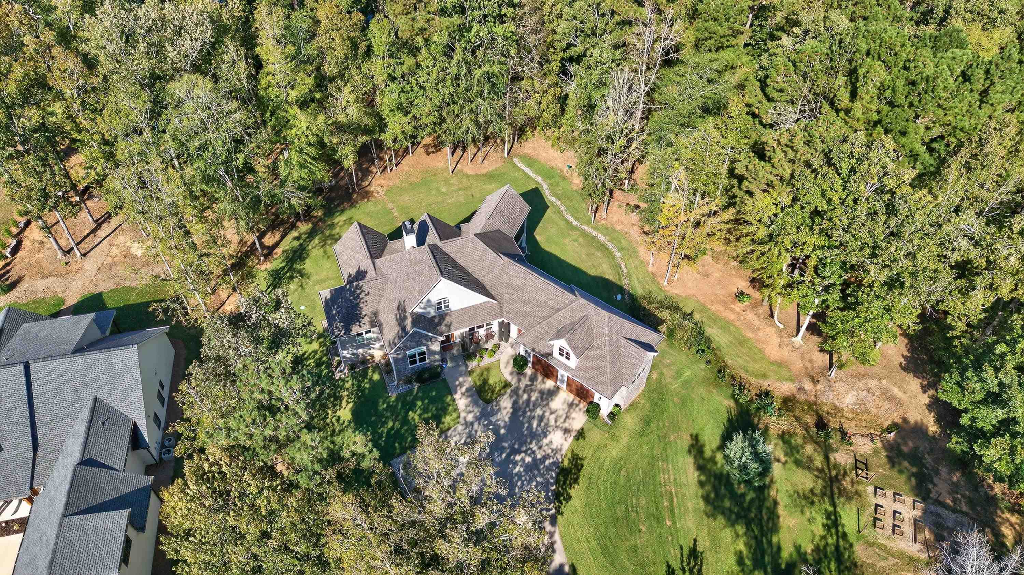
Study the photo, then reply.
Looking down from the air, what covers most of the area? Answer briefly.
trees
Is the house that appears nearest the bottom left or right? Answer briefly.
left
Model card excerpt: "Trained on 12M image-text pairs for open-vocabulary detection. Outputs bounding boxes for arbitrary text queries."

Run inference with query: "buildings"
[318,183,664,415]
[0,301,175,575]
